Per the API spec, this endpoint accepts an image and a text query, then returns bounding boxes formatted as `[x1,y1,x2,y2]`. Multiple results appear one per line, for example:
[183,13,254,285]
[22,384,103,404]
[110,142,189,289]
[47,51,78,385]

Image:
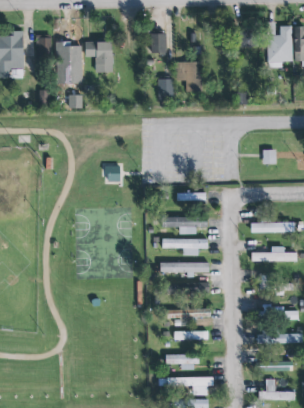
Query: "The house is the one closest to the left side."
[0,30,24,79]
